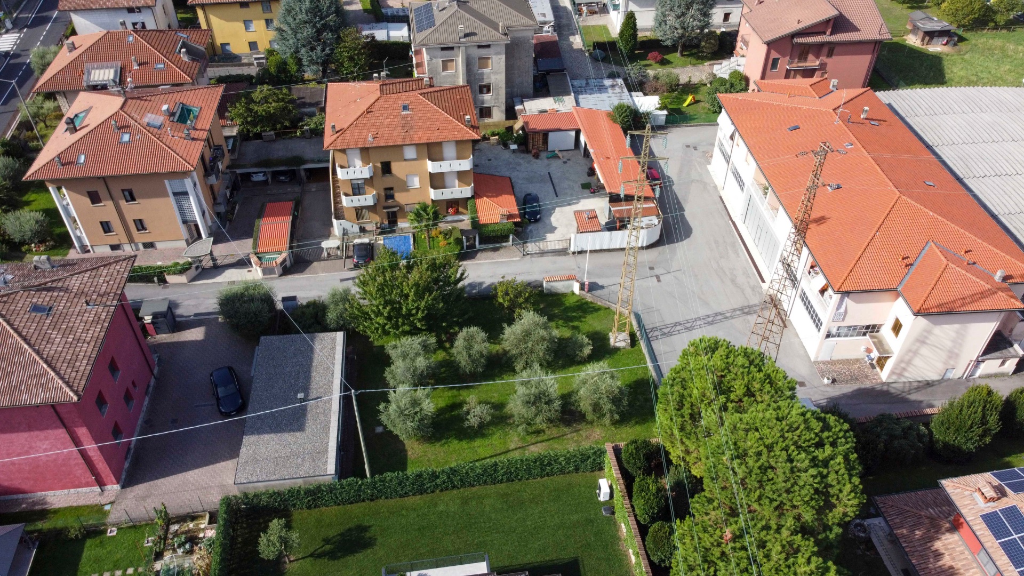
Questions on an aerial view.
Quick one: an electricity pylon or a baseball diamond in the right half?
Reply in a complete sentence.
You can see an electricity pylon in the right half.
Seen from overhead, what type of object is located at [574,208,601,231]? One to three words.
shed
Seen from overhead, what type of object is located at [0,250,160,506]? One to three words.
house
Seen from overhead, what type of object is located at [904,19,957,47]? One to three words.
barn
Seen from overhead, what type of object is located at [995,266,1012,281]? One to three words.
chimney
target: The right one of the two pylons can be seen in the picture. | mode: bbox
[705,141,854,456]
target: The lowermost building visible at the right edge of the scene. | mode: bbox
[871,465,1024,576]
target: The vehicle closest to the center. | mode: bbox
[521,194,544,223]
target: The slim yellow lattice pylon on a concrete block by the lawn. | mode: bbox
[609,126,669,350]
